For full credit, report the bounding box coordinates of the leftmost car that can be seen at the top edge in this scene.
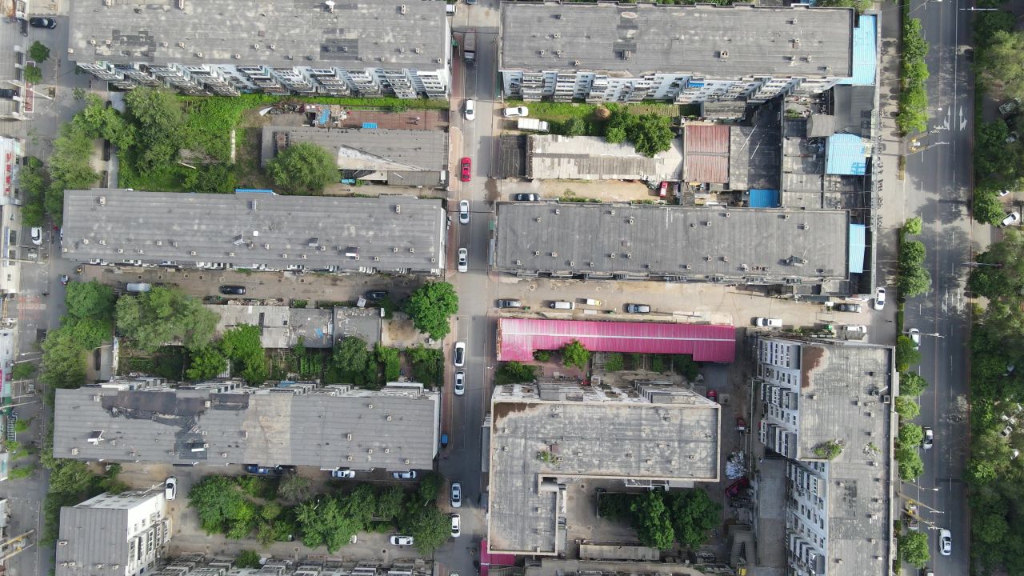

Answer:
[31,16,57,28]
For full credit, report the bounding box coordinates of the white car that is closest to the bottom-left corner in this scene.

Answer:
[164,478,177,500]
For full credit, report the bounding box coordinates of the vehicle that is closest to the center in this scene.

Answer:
[497,298,521,310]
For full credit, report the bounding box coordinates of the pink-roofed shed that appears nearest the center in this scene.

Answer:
[496,318,736,362]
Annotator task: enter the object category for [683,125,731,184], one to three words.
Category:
shed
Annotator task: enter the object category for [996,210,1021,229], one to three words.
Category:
car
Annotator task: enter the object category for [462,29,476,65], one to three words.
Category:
vehicle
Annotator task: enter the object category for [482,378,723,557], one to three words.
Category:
building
